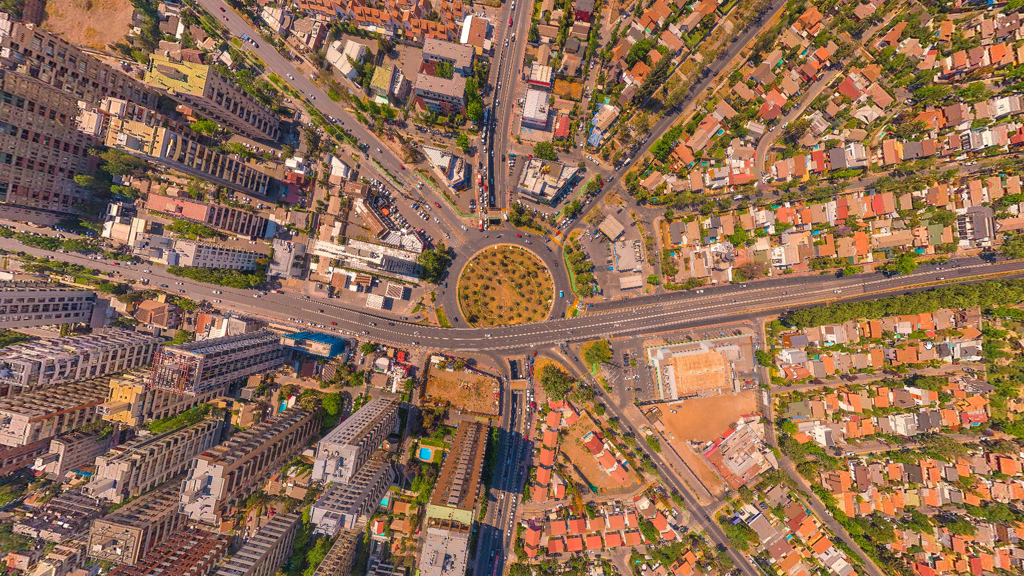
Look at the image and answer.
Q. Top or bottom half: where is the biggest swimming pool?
bottom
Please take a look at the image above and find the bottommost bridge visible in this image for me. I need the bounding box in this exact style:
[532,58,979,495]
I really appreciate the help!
[252,252,1024,350]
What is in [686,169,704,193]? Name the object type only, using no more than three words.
house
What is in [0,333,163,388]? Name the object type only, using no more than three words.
building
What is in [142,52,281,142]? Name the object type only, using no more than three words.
building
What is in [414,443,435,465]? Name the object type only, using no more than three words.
swimming pool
